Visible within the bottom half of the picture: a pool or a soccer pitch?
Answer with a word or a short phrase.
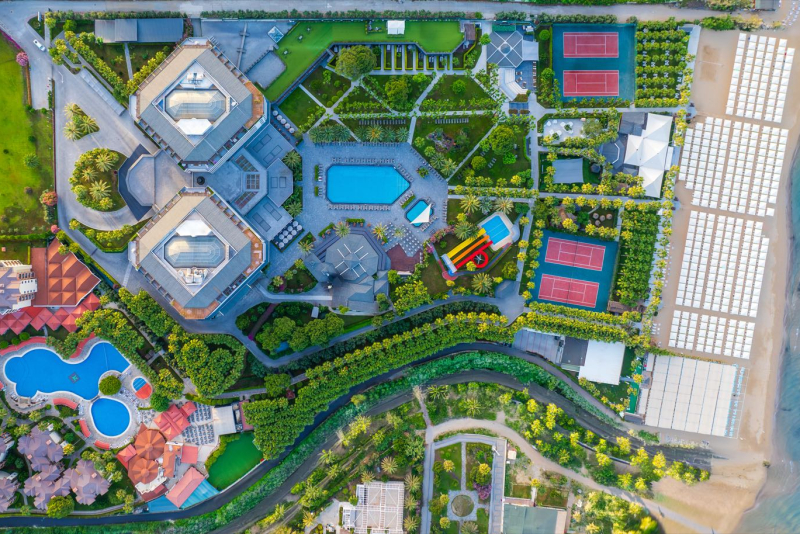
pool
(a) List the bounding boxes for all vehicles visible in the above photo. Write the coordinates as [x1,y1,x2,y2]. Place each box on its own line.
[31,38,45,52]
[36,11,41,21]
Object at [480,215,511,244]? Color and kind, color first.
blue swimming pool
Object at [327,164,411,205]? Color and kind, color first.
blue swimming pool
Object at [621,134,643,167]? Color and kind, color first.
white tent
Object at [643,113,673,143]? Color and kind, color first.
white tent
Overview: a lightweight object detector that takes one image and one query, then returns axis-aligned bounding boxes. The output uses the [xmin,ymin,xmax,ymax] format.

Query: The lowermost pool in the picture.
[89,396,133,438]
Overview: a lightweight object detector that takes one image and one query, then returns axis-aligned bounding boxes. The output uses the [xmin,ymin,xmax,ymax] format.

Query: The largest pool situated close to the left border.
[2,340,132,402]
